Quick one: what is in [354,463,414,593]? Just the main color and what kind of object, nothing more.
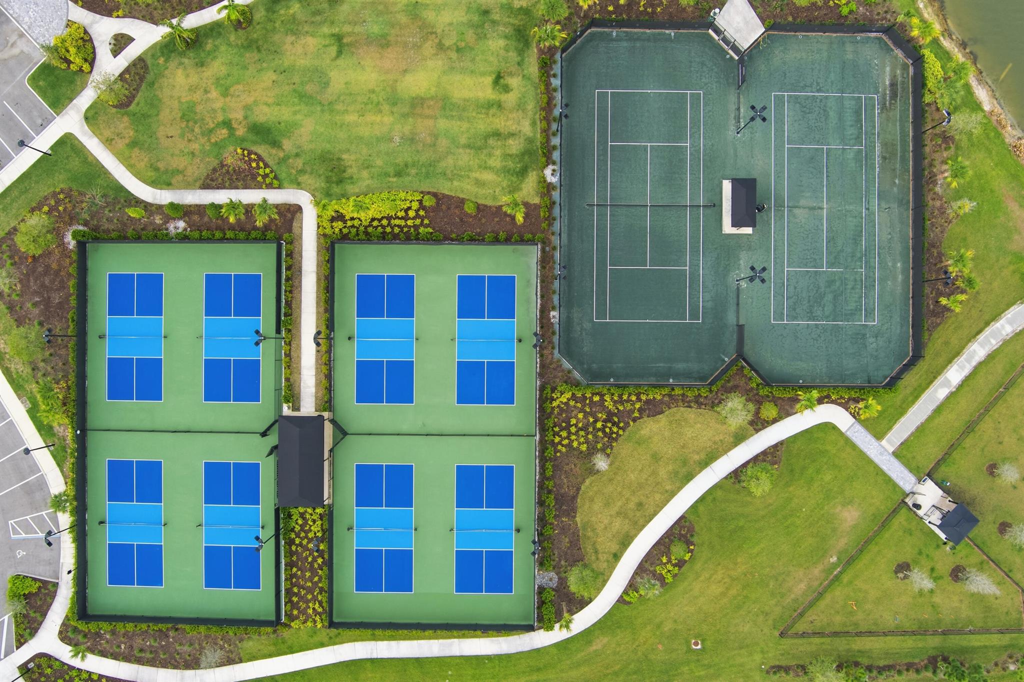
blue sports court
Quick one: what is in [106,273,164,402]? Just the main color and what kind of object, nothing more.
blue sports court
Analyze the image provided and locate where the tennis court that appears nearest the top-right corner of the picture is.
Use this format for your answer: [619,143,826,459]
[772,92,877,323]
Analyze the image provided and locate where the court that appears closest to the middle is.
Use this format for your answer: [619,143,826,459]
[456,274,516,406]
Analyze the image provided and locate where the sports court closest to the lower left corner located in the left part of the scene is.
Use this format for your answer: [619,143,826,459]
[106,459,164,588]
